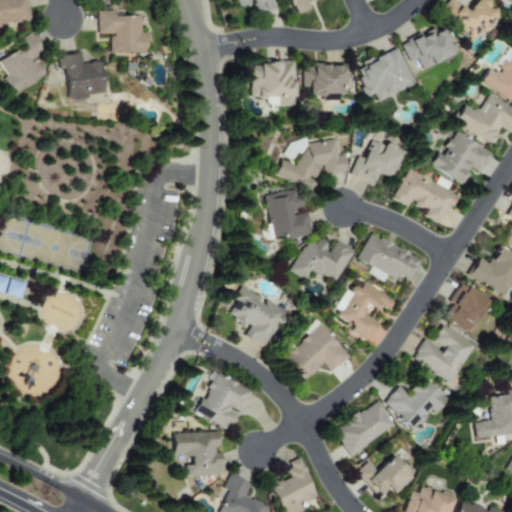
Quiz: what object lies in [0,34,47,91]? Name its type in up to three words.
house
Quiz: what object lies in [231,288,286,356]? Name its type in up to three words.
house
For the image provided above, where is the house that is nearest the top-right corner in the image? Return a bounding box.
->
[448,0,501,36]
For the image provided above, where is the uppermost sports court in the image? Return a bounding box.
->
[0,212,92,273]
